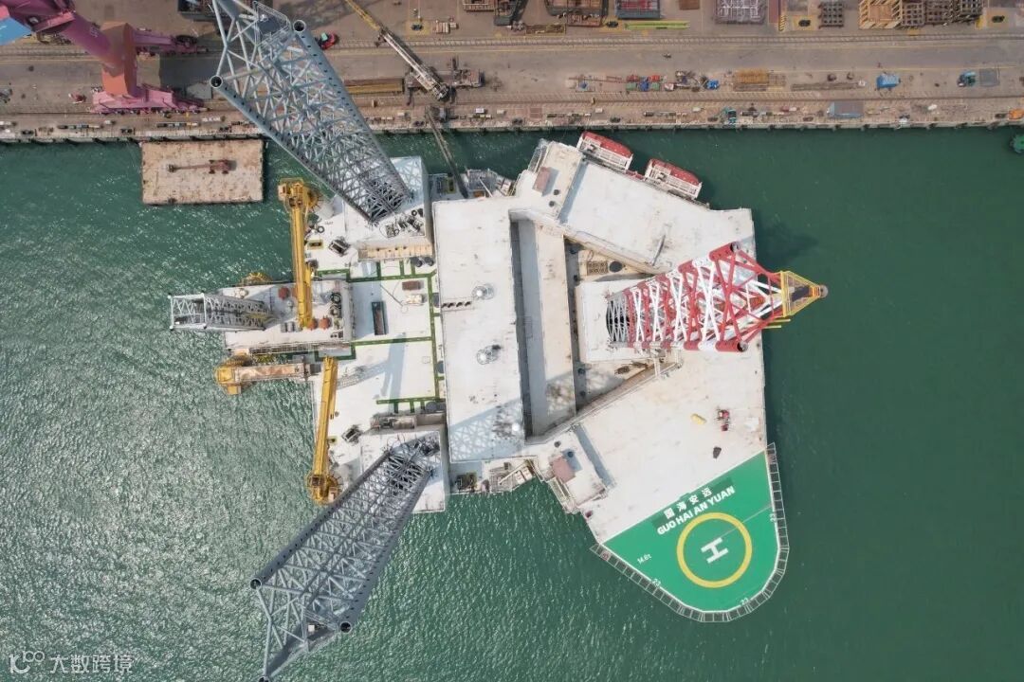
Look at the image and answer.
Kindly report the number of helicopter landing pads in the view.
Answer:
1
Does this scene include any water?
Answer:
Yes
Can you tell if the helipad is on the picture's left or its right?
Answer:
right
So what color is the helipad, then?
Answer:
green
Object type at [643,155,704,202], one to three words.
boat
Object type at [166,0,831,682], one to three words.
ship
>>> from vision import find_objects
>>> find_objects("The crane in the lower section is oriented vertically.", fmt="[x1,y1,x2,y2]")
[309,355,360,512]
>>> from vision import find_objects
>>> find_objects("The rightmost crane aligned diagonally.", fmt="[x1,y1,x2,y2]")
[342,0,490,107]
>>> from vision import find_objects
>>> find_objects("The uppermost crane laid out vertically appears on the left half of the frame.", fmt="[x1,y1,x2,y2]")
[276,173,339,333]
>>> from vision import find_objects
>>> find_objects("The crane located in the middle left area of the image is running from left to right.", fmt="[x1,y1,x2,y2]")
[213,353,321,397]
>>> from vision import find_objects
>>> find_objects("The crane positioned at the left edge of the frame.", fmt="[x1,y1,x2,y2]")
[0,0,207,114]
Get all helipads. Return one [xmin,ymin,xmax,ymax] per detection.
[591,444,790,623]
